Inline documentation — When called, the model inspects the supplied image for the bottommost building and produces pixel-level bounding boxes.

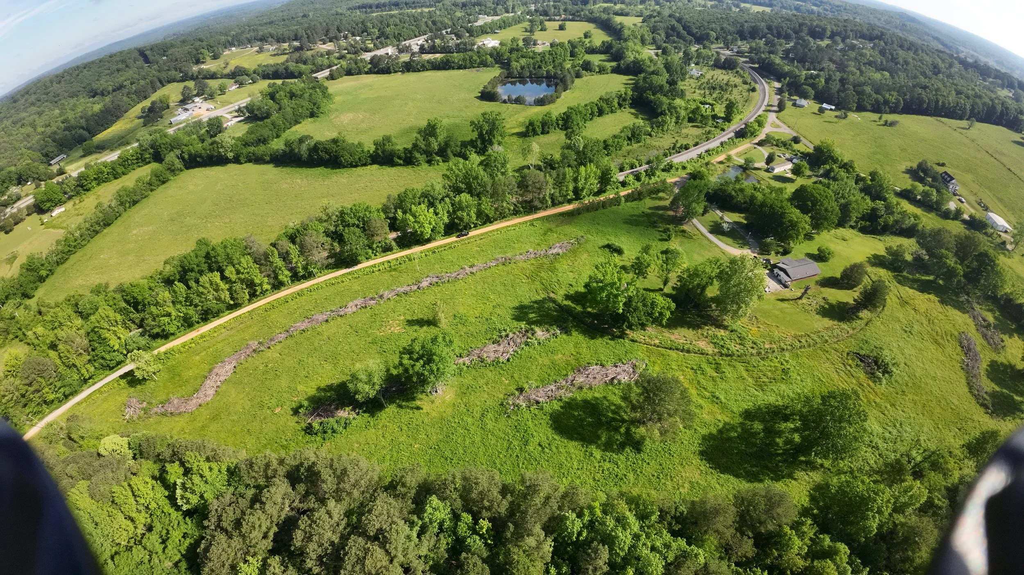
[772,250,821,282]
